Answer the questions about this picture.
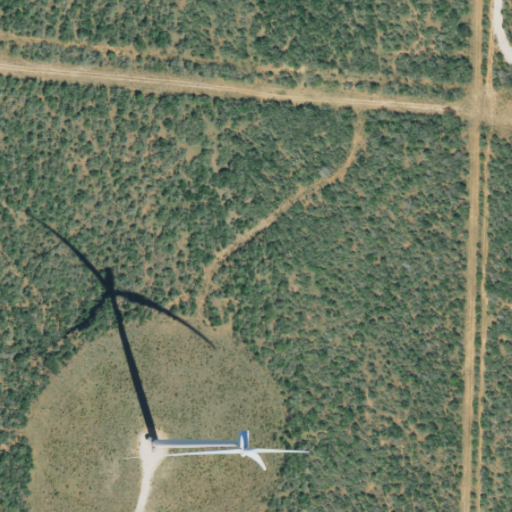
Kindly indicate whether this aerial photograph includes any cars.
No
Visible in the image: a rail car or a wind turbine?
wind turbine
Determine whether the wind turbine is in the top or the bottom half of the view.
bottom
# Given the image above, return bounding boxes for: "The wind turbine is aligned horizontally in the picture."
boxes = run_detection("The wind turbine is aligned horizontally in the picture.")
[122,431,309,474]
